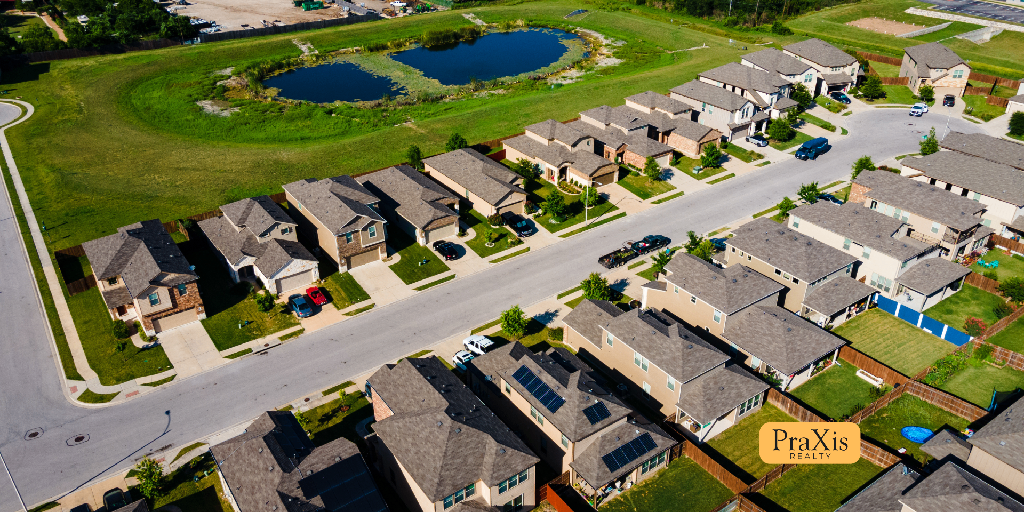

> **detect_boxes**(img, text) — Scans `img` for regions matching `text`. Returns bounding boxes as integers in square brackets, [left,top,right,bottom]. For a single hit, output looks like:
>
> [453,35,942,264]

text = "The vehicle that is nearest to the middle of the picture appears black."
[504,211,536,234]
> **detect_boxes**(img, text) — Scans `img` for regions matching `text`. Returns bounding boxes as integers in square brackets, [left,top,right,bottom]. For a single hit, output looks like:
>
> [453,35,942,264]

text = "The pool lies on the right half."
[901,420,936,444]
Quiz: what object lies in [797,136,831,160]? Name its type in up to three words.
vehicle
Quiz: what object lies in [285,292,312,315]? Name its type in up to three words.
car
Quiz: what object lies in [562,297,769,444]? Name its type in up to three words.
house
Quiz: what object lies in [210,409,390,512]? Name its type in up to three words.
building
